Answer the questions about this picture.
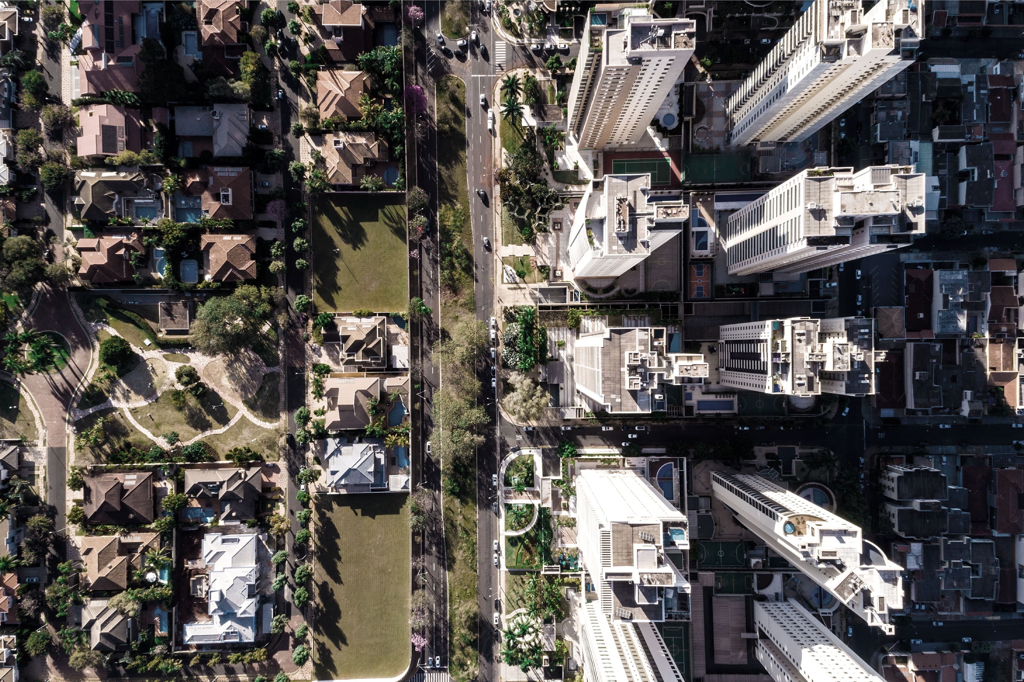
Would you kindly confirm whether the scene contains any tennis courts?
Yes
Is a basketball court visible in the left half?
No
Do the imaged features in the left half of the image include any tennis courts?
No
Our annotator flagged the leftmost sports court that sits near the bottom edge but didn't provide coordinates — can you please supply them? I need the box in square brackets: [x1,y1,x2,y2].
[656,622,690,682]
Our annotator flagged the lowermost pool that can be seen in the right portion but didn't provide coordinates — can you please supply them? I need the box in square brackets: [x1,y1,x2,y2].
[812,587,834,608]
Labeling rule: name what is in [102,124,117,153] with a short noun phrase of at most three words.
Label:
solar panel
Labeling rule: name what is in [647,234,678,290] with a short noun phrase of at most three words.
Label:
sports court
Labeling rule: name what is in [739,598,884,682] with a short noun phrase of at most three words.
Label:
building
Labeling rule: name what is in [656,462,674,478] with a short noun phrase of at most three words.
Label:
swimming pool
